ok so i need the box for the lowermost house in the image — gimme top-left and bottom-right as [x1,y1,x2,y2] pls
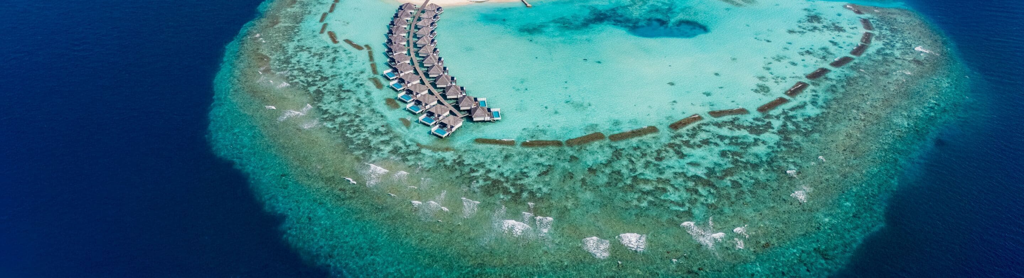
[432,115,464,140]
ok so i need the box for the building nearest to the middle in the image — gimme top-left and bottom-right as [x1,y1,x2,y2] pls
[470,106,501,123]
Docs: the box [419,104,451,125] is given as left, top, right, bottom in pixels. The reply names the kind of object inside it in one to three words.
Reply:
house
